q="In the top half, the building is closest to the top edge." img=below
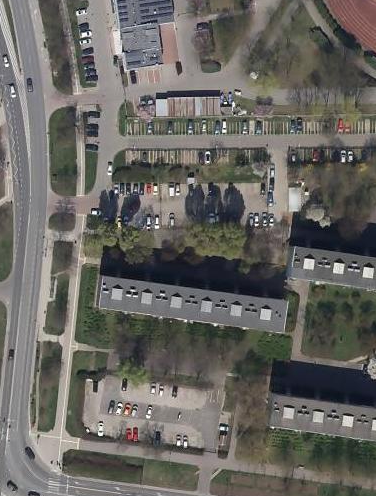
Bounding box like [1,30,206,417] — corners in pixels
[112,0,175,71]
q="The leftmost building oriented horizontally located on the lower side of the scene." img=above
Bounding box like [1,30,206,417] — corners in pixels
[98,275,292,334]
